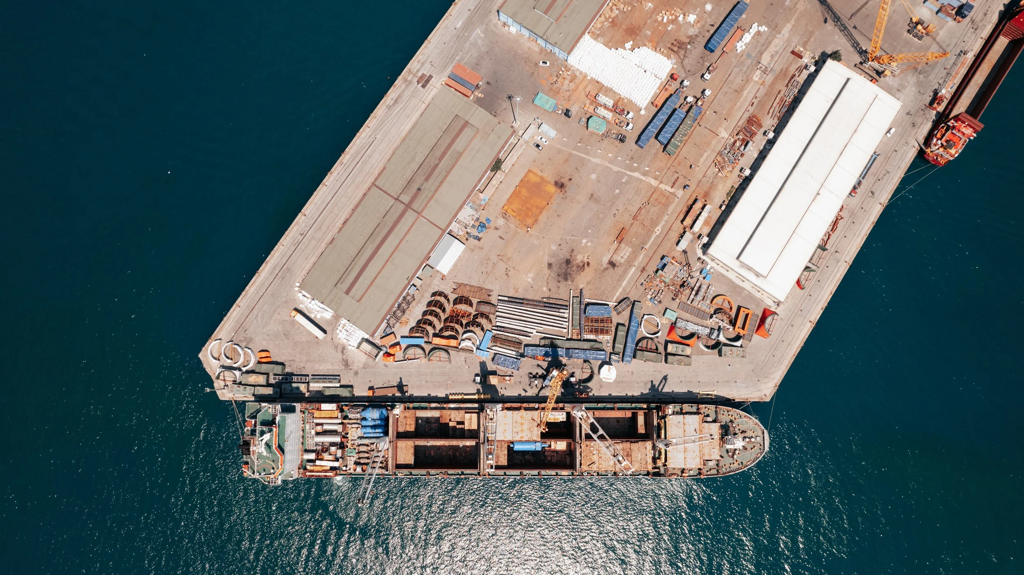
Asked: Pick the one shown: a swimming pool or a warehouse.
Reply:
warehouse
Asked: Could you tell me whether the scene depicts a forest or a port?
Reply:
port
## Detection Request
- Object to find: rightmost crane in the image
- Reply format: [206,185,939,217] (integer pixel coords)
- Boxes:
[924,50,974,111]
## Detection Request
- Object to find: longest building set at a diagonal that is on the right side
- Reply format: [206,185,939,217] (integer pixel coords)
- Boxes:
[695,59,902,309]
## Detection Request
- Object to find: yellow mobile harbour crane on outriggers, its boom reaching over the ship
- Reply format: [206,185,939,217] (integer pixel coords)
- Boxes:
[528,362,575,433]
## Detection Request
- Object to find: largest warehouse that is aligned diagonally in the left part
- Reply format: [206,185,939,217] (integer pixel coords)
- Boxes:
[299,85,516,338]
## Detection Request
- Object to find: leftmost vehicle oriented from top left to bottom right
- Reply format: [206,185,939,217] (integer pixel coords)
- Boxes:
[290,310,326,339]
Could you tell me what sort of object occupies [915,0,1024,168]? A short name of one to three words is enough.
ship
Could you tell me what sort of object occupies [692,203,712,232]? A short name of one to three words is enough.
vehicle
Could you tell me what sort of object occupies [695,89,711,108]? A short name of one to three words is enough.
vehicle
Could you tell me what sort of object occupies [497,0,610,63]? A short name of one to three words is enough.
building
